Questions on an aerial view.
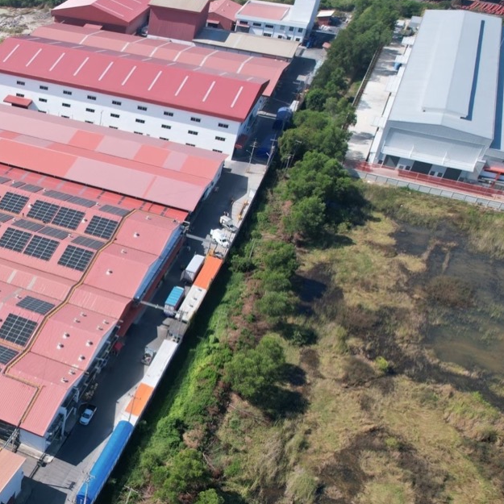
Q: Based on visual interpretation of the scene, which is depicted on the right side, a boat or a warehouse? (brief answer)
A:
warehouse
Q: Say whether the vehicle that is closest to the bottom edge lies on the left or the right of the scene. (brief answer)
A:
left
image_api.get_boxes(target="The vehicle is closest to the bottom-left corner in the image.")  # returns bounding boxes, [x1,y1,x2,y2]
[77,403,98,426]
